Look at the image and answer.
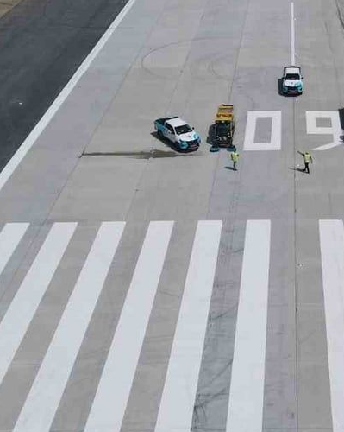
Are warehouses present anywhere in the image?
No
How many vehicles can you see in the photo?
3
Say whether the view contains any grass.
No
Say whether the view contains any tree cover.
No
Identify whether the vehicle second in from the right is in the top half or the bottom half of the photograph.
top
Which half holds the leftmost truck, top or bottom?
top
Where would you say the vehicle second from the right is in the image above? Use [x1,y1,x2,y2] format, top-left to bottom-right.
[209,105,234,151]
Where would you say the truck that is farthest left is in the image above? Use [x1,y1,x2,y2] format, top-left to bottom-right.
[154,113,198,147]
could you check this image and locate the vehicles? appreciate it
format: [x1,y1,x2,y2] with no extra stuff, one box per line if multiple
[154,113,198,147]
[209,105,234,151]
[280,66,303,92]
